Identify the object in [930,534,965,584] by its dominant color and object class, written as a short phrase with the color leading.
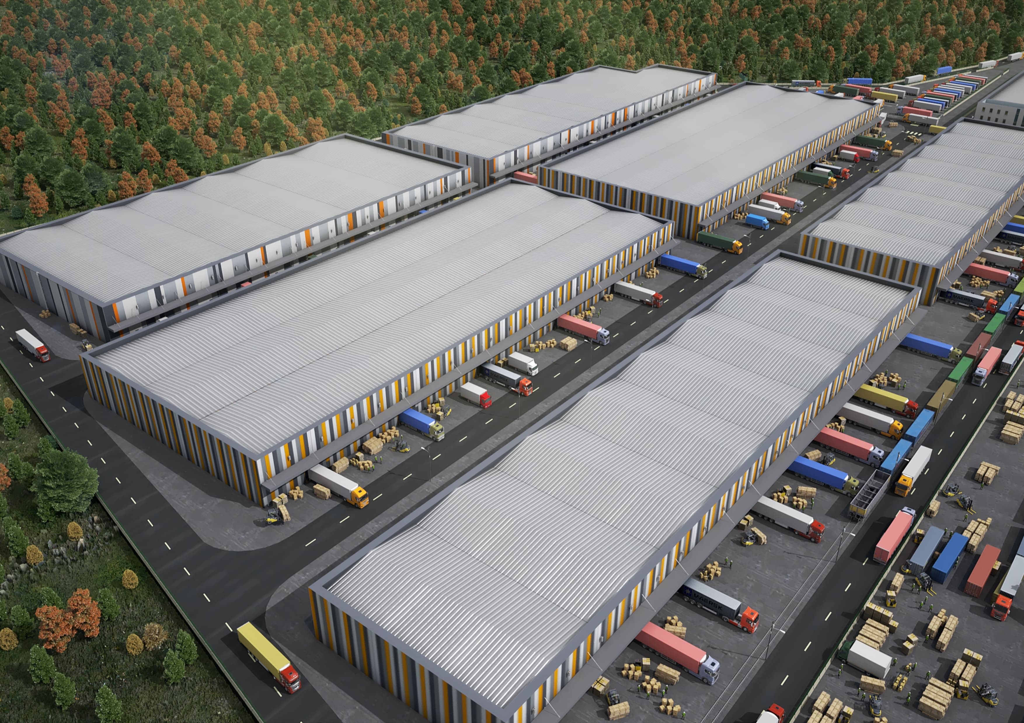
blue shipping container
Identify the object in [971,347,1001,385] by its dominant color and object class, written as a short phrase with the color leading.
pink truck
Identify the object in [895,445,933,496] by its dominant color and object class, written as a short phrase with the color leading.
white truck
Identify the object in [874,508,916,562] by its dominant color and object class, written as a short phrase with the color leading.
pink truck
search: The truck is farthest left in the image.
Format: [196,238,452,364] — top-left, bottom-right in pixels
[15,328,52,362]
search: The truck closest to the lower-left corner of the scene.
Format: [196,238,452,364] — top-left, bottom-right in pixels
[236,621,303,694]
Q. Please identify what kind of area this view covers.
industrial area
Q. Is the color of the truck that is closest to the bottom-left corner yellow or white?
yellow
